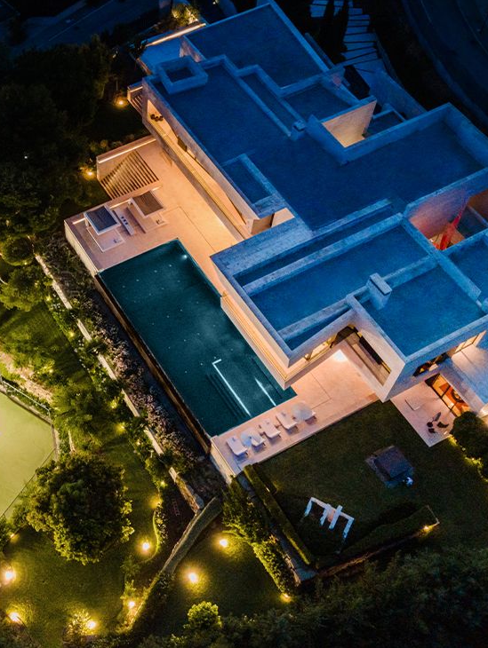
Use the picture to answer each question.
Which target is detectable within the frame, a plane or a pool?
pool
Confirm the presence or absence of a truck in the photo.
No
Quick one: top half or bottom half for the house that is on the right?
top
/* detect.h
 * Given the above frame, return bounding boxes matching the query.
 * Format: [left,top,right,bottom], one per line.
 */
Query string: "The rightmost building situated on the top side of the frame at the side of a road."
[126,0,488,427]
